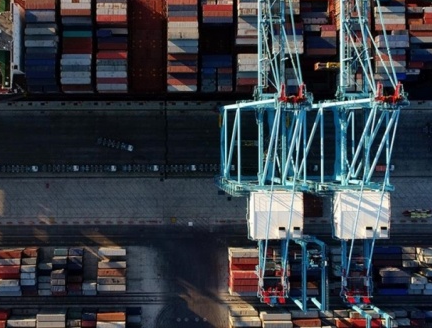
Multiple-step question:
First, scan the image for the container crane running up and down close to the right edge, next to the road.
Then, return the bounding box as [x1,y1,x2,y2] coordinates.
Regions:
[285,0,414,303]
